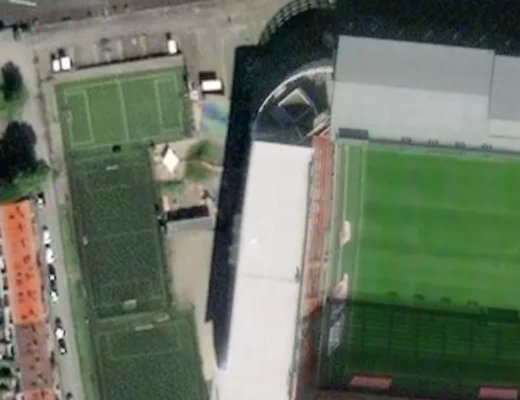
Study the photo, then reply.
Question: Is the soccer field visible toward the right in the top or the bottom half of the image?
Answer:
bottom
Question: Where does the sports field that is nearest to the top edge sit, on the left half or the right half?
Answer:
left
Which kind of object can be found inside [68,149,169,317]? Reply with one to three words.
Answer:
sports field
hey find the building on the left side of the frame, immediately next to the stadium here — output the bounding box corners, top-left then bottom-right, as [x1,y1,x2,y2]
[166,217,212,237]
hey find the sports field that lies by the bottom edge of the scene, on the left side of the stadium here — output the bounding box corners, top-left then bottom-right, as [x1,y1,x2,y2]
[92,310,208,400]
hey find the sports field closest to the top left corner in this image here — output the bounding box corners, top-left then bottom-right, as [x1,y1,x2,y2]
[57,67,191,152]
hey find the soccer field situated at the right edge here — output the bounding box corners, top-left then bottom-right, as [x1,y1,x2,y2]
[318,140,520,391]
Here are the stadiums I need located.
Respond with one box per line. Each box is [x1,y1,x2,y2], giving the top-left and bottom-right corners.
[213,29,520,400]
